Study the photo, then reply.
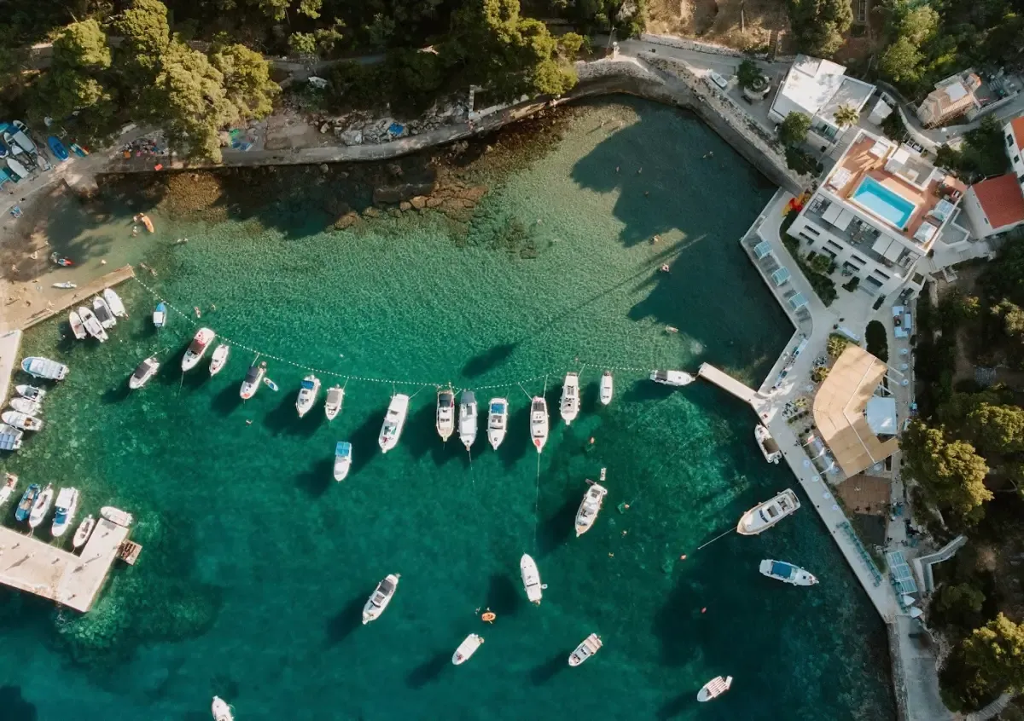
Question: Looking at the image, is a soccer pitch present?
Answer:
No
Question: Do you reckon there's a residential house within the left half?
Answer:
No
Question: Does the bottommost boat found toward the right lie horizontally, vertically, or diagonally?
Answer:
diagonally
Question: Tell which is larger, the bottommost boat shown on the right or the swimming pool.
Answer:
the swimming pool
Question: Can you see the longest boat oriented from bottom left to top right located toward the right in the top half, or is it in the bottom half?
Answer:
bottom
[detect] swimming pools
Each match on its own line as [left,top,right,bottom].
[848,172,919,231]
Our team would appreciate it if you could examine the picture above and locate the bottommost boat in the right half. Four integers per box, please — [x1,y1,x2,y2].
[698,674,726,701]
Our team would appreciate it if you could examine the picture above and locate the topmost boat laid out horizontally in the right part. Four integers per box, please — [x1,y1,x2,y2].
[641,369,699,386]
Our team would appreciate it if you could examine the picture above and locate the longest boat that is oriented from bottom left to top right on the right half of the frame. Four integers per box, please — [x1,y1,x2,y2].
[698,484,802,550]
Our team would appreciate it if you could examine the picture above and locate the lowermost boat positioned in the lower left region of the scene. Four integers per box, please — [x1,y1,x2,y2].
[211,697,233,721]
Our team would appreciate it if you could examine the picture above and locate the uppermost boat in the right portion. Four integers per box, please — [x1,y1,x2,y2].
[711,69,730,91]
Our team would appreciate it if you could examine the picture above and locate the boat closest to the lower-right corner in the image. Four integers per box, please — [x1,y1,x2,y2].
[758,558,821,587]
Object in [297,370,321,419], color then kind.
white boat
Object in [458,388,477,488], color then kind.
white boat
